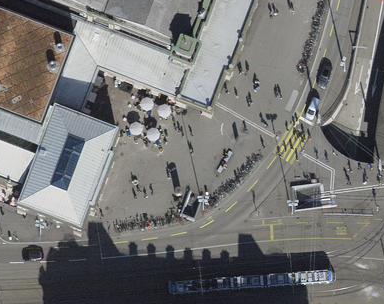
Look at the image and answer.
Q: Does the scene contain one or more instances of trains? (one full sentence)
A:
Yes, this view includes a train.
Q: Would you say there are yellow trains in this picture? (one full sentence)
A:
No, no yellow train is visible in the scene.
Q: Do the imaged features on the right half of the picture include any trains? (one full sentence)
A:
Yes, there is a train on the right half of the picture.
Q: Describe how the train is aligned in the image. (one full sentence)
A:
In this picture, the train lies from left to right.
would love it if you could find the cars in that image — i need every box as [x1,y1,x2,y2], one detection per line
[23,248,44,258]
[318,62,332,86]
[306,98,320,122]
